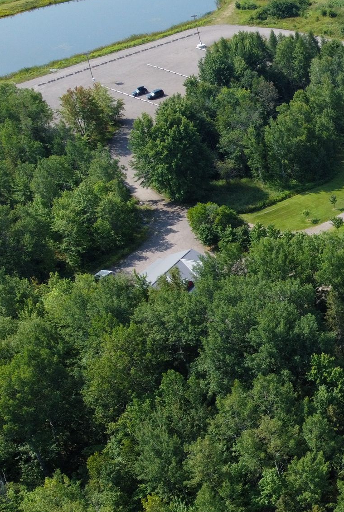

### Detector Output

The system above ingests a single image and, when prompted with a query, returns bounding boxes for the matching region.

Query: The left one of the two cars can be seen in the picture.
[129,82,148,96]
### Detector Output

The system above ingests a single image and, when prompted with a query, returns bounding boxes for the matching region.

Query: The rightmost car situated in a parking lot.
[146,87,165,100]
